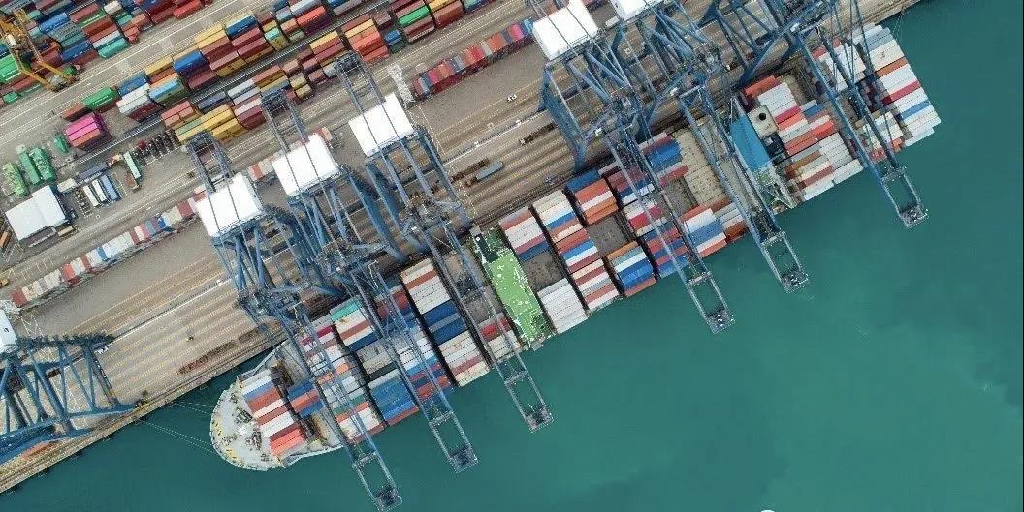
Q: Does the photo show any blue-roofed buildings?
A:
No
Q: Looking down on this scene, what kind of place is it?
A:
port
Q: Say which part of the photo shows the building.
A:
left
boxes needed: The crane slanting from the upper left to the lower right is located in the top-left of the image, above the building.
[0,3,77,93]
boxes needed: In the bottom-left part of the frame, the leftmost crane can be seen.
[0,302,153,469]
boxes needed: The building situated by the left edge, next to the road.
[10,185,77,250]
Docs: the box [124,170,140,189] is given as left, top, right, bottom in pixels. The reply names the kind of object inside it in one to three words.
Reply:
vehicle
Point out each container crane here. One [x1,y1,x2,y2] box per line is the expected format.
[694,0,933,225]
[257,85,480,476]
[0,3,77,93]
[184,123,405,512]
[330,48,556,434]
[524,0,739,333]
[593,0,813,292]
[0,302,153,469]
